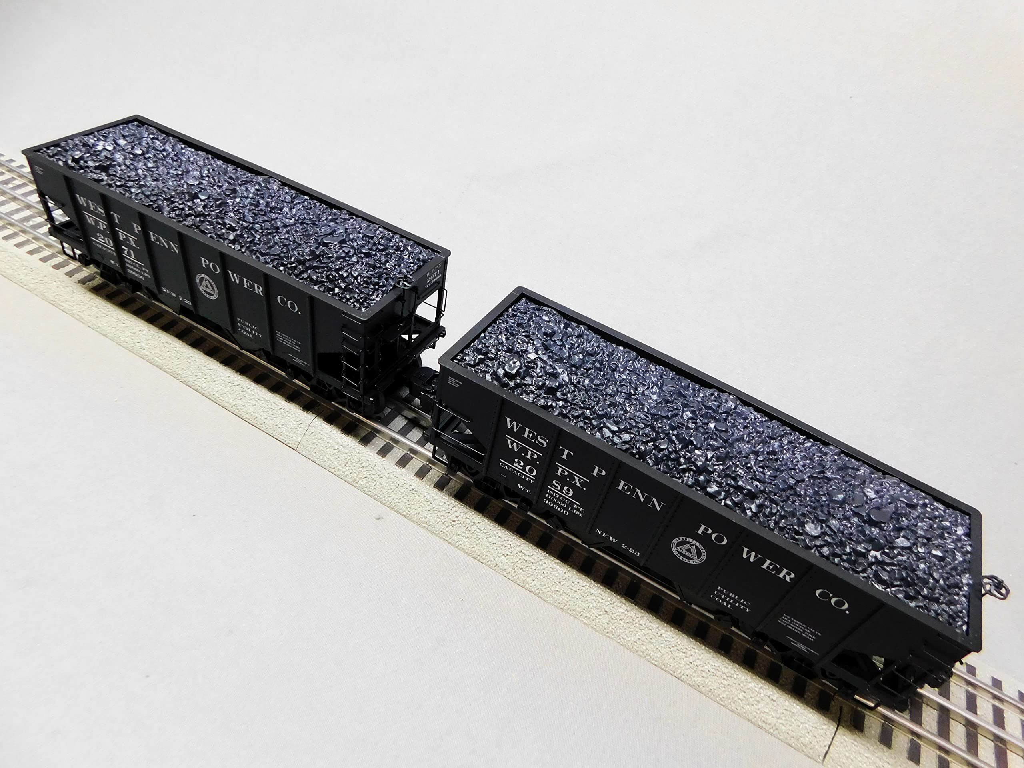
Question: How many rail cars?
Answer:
2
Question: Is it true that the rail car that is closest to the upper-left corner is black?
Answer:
Yes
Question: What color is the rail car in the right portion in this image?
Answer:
black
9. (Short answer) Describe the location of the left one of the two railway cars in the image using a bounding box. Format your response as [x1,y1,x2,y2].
[22,114,449,421]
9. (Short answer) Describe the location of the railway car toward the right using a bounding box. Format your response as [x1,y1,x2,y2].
[419,289,1011,716]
